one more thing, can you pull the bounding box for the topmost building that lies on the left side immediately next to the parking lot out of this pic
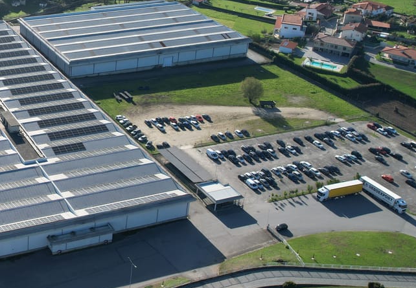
[18,0,252,81]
